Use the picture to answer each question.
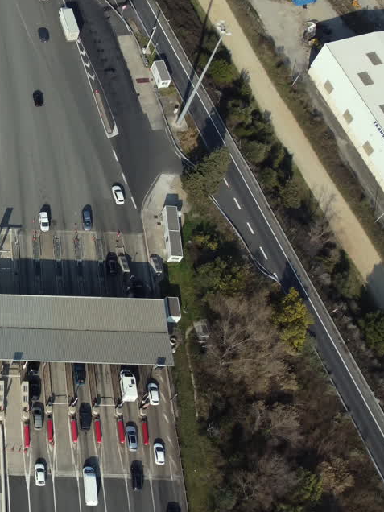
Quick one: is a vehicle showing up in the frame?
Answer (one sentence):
Yes, there's a vehicle down there.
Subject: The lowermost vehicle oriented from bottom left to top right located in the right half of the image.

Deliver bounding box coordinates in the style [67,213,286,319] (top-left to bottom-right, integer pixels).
[308,29,325,46]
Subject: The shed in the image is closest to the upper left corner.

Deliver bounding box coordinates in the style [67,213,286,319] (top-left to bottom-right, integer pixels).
[151,57,174,89]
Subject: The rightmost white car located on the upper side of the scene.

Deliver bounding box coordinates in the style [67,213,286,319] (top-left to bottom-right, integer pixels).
[112,186,125,204]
